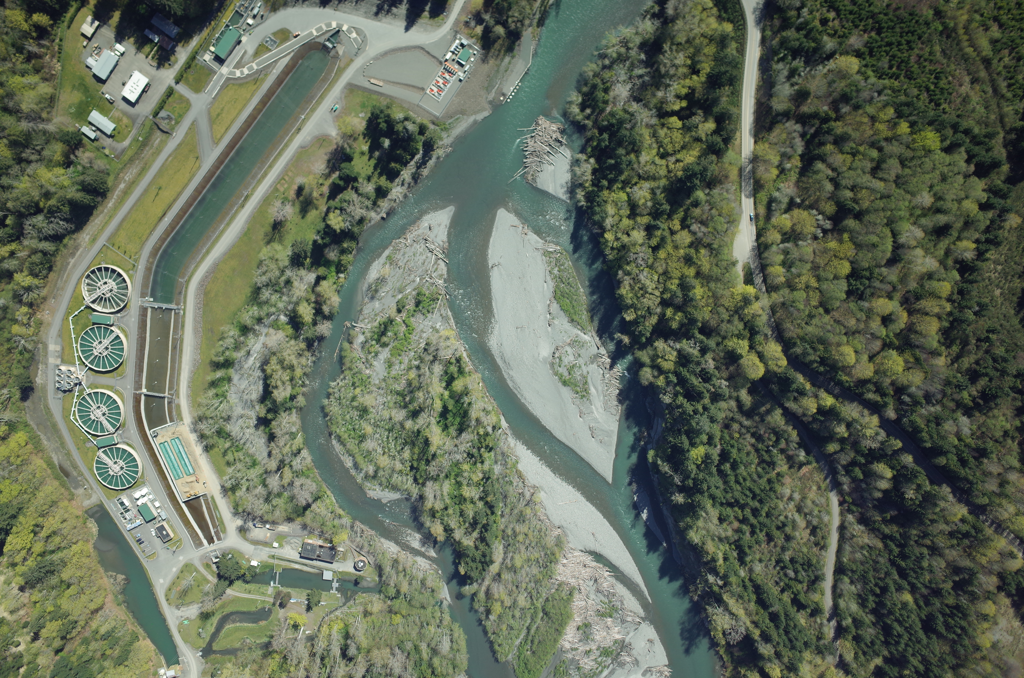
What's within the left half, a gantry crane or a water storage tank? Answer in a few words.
water storage tank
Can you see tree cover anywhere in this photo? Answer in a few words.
Yes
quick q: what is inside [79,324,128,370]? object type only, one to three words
water tank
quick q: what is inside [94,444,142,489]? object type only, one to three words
water tank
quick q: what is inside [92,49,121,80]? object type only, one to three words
building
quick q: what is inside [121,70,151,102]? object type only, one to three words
building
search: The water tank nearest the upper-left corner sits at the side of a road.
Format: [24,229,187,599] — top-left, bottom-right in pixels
[81,264,133,312]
